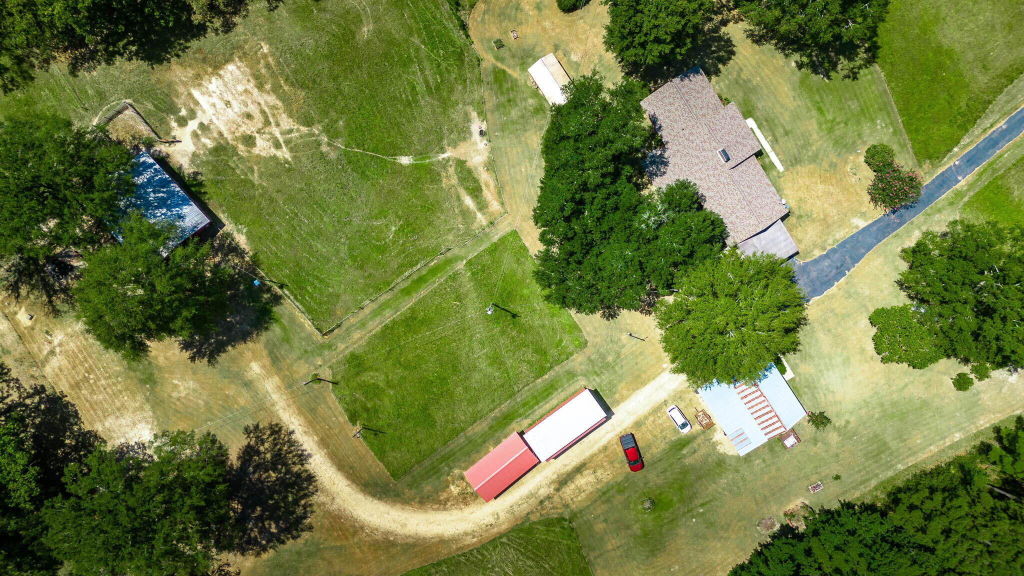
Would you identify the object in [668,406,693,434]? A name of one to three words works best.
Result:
car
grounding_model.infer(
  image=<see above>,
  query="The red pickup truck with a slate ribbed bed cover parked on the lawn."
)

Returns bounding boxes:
[620,434,643,473]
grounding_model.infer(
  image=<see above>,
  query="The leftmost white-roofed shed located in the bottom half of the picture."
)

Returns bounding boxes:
[522,386,608,462]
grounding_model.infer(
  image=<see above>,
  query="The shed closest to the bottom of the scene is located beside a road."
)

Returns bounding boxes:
[464,432,539,502]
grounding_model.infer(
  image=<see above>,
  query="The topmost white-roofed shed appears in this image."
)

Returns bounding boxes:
[528,54,571,107]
